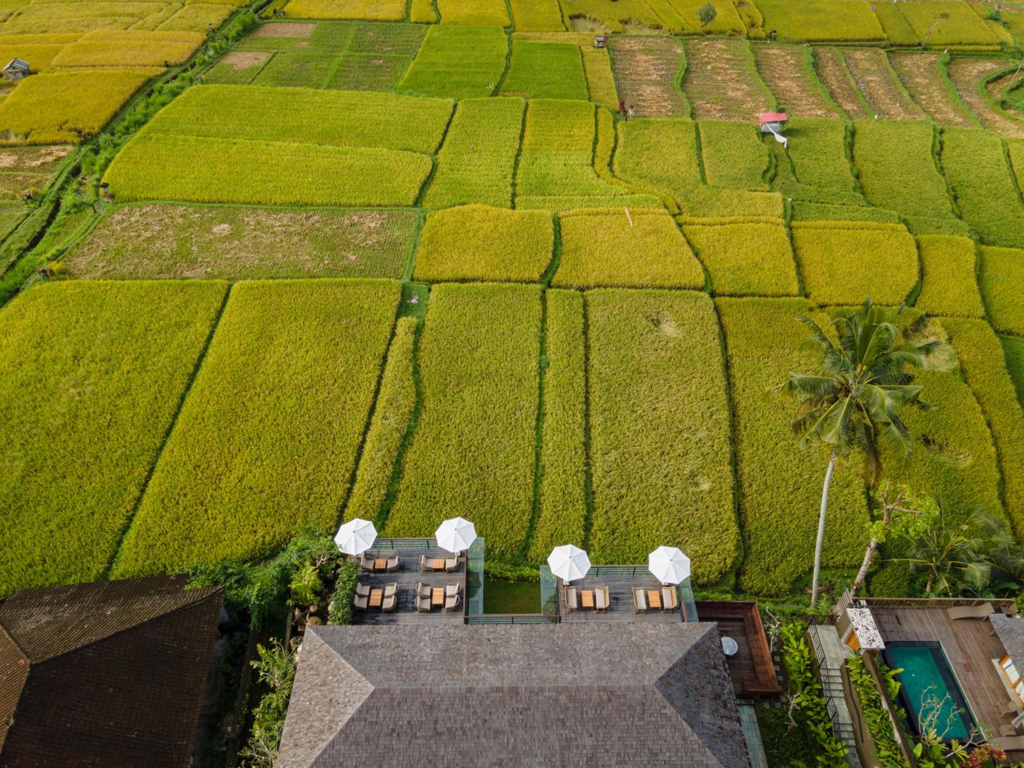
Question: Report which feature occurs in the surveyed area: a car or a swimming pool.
swimming pool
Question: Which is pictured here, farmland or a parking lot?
farmland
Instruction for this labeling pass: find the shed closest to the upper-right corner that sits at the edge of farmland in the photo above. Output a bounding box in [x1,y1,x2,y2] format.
[759,108,788,135]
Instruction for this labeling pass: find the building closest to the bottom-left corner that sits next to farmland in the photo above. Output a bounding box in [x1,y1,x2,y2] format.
[0,576,225,768]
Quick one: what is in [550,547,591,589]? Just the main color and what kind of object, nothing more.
white umbrella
